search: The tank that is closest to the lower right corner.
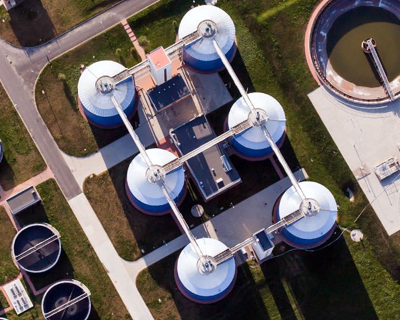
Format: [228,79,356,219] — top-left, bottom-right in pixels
[273,178,338,246]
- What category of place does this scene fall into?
industrial area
